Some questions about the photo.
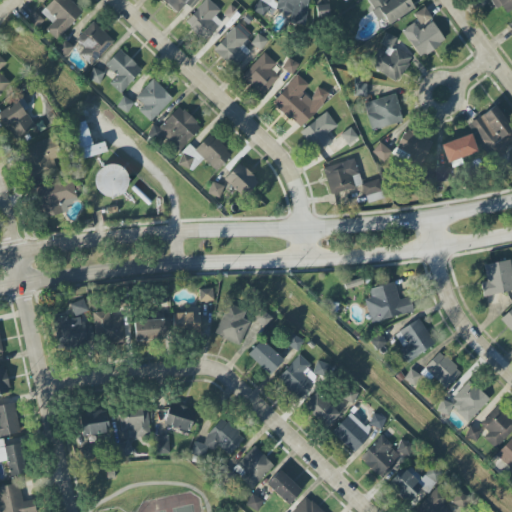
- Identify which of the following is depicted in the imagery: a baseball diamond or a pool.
pool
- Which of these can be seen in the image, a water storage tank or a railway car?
water storage tank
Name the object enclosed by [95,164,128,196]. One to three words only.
water tank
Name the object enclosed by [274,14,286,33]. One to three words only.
swimming pool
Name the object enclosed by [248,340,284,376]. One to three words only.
house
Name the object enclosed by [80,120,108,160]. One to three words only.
building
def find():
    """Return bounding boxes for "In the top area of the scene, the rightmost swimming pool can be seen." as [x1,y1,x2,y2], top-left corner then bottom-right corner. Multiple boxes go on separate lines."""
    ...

[353,16,381,43]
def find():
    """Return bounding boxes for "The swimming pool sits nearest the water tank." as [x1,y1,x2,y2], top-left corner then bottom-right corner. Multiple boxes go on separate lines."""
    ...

[66,200,83,222]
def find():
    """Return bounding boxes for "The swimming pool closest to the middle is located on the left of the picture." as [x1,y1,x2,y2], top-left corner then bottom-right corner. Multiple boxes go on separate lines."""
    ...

[172,288,197,304]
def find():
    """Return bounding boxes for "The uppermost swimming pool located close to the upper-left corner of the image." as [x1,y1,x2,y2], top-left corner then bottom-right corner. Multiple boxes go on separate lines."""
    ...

[70,48,88,70]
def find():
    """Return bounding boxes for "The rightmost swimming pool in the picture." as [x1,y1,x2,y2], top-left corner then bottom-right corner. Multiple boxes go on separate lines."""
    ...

[448,410,466,430]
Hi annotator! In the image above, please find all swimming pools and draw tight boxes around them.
[448,410,466,430]
[353,16,381,43]
[274,14,286,33]
[172,288,197,304]
[356,408,370,426]
[350,302,366,324]
[70,48,88,70]
[66,200,83,222]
